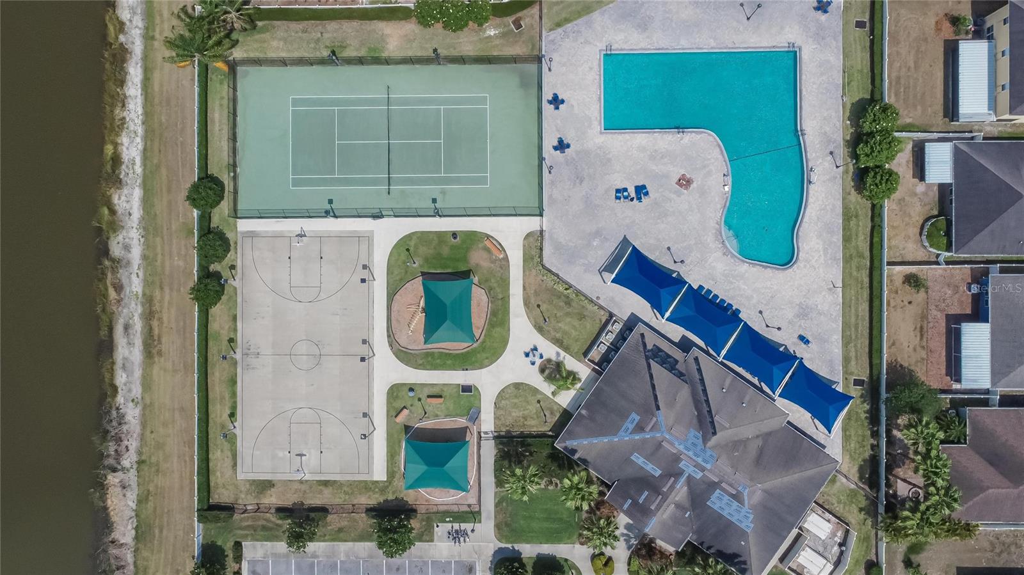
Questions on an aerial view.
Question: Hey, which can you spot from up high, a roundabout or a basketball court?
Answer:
basketball court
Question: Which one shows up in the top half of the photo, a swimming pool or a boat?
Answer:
swimming pool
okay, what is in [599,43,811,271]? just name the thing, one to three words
swimming pool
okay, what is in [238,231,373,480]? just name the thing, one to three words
basketball court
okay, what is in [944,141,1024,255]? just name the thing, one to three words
house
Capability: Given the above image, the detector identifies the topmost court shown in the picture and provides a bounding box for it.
[236,64,543,218]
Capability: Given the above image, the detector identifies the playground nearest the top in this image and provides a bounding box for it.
[391,274,489,350]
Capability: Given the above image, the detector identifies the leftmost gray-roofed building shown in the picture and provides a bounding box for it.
[554,322,840,575]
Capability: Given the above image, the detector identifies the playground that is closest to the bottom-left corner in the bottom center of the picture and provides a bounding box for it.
[400,415,477,505]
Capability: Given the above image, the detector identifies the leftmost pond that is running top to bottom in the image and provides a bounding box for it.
[0,0,120,575]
